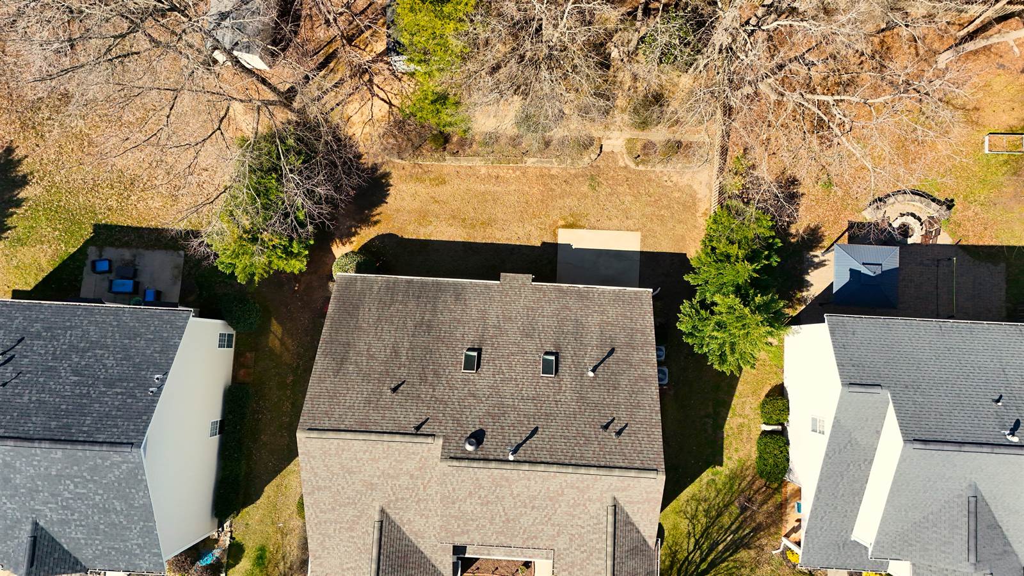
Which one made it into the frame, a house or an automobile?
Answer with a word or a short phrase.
house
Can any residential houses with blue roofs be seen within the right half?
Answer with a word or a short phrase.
No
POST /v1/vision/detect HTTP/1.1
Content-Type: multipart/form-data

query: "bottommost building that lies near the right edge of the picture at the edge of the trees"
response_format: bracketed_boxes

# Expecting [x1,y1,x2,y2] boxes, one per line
[783,313,1024,576]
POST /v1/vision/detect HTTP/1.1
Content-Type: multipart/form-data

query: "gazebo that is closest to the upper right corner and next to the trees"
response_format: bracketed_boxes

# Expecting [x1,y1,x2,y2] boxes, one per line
[816,243,900,309]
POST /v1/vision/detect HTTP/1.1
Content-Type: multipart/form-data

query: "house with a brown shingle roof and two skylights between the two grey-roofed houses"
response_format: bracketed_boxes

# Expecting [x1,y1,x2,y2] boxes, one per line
[299,271,665,576]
